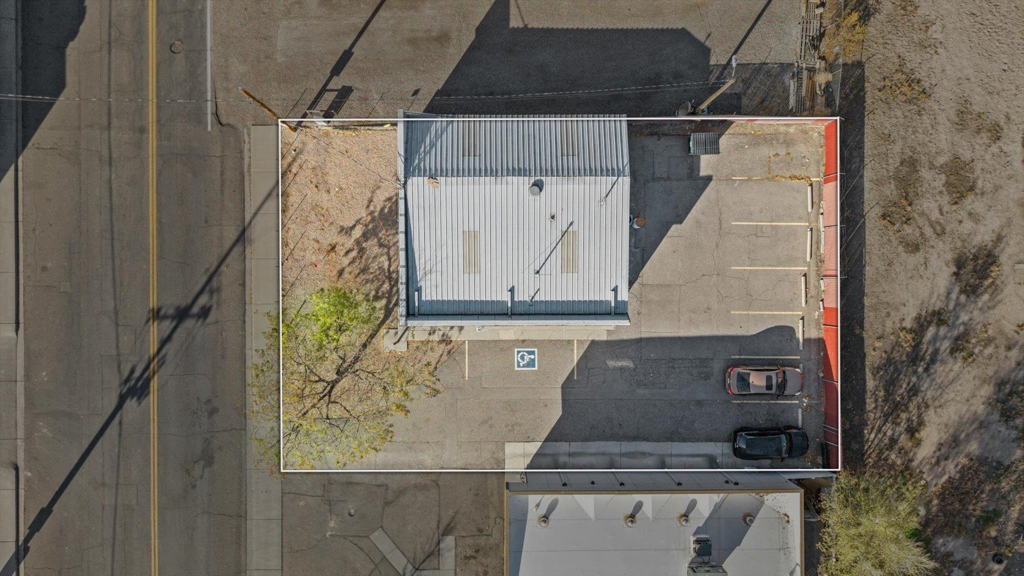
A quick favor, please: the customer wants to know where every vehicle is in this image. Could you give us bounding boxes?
[725,363,803,399]
[730,423,807,461]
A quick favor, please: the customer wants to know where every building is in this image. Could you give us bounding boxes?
[506,463,806,576]
[396,108,630,331]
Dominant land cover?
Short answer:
paved ground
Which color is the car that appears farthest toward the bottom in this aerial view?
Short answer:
black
